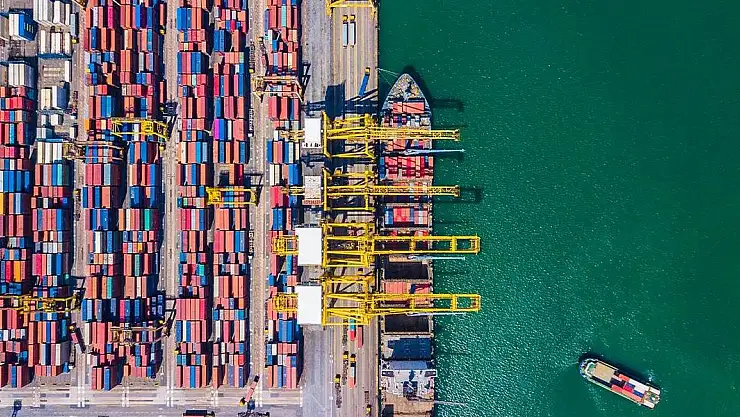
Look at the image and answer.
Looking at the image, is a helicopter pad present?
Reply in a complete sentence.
No, no helicopter pad is visible in the view.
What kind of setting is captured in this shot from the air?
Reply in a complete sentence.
The area seen from above is a port.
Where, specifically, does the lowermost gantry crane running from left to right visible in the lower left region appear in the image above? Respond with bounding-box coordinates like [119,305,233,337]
[111,315,171,345]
